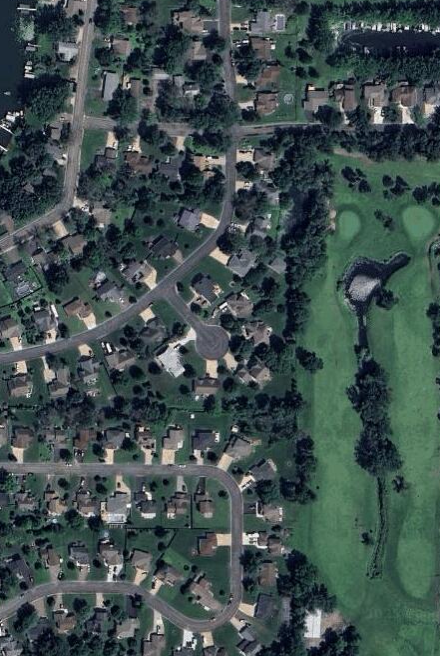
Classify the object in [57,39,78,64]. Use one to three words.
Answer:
house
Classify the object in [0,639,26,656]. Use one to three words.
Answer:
house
